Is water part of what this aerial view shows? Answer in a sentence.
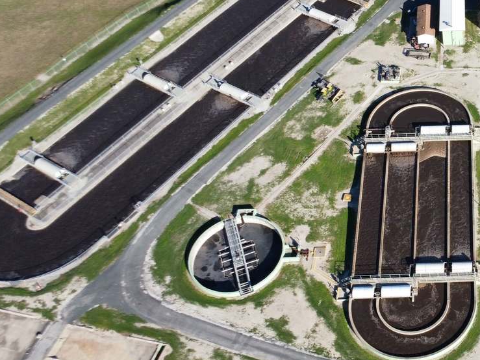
Yes, the picture does contain water.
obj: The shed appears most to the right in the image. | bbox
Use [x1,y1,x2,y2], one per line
[439,0,467,46]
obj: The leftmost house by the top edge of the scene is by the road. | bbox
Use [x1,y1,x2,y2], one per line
[416,3,437,47]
